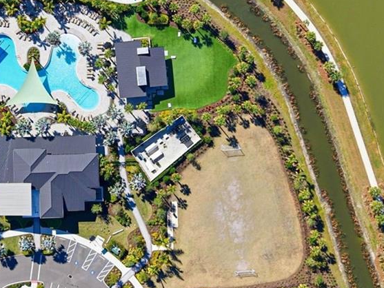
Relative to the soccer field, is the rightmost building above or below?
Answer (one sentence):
The rightmost building appears above the soccer field in the picture.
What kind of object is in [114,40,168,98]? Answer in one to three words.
building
